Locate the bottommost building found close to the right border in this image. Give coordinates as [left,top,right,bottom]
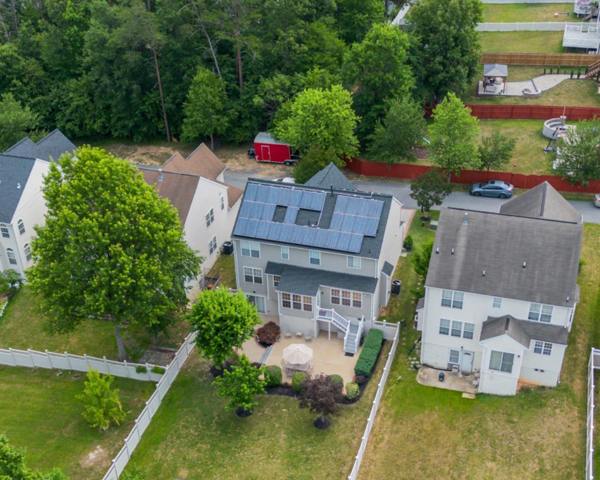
[414,181,585,395]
